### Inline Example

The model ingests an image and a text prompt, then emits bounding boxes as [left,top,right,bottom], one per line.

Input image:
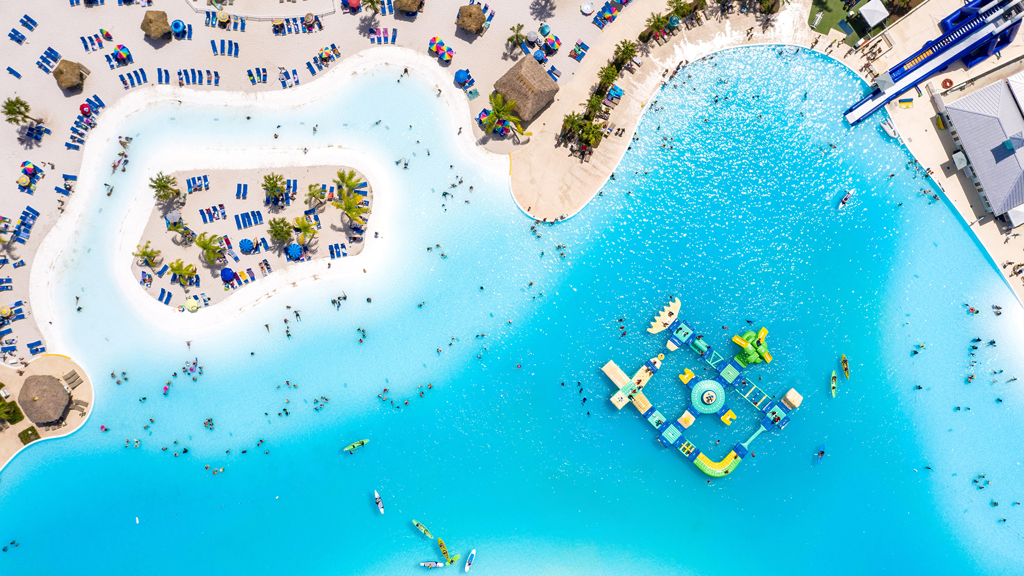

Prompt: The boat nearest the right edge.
[880,117,899,139]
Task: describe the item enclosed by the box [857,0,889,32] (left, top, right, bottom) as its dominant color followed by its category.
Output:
white tent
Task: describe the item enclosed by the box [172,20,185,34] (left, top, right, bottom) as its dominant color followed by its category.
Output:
blue umbrella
